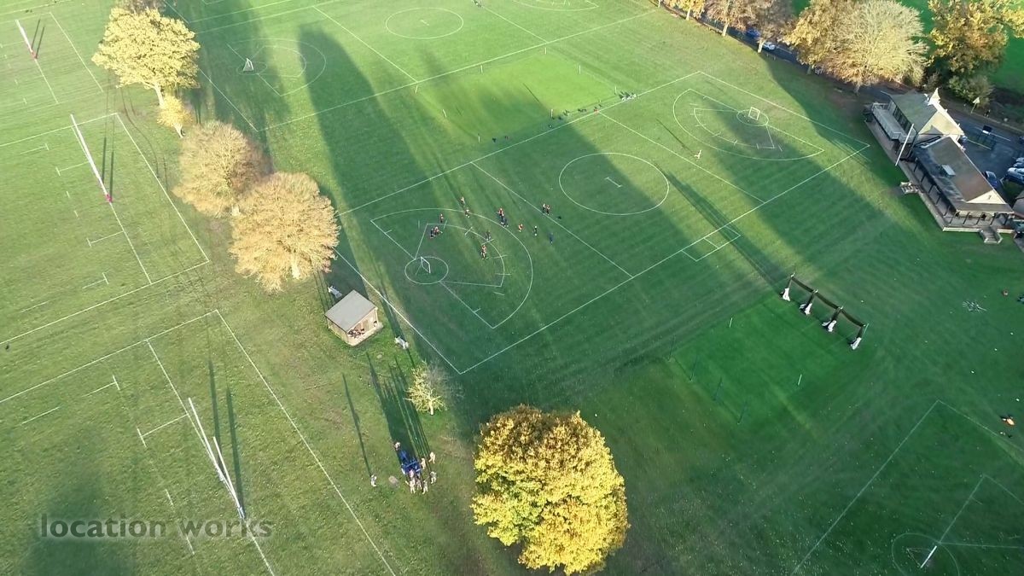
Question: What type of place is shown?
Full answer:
It's a sports ground.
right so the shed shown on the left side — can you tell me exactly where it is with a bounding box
[321,294,381,347]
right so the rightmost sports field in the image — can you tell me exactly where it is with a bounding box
[696,347,1024,576]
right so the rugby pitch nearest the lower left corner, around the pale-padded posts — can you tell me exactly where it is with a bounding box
[0,306,403,576]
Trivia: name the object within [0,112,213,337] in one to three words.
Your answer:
sports field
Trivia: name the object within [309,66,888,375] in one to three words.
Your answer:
sports field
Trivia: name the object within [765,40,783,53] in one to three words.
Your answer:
vehicle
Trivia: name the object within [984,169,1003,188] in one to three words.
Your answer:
car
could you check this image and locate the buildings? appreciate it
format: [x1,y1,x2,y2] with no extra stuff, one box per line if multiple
[859,82,1018,243]
[321,294,381,347]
